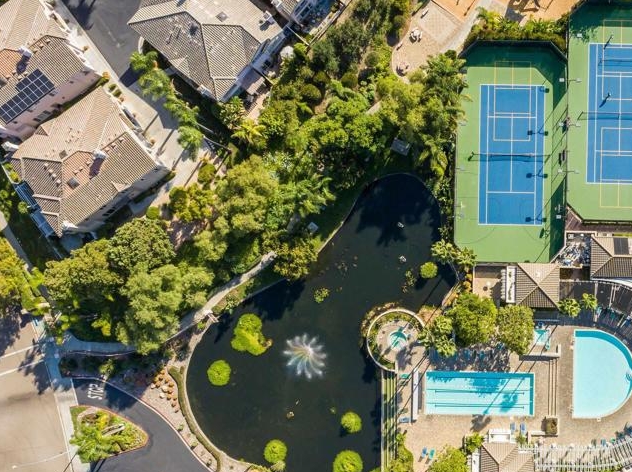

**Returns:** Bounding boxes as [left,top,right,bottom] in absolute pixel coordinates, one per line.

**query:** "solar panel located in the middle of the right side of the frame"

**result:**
[614,238,629,255]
